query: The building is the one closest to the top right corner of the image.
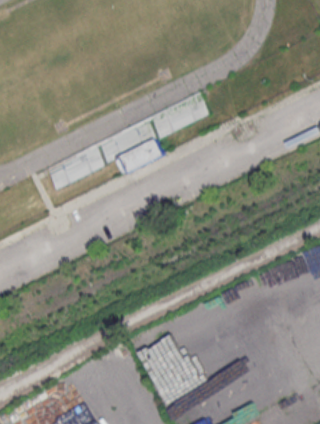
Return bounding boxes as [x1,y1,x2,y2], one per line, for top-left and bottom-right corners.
[152,91,212,139]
